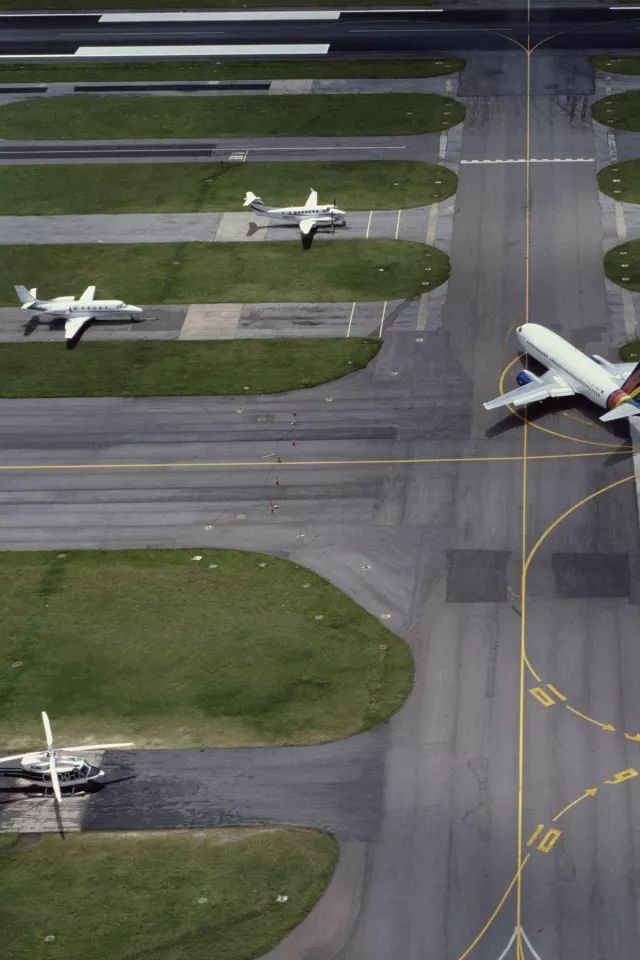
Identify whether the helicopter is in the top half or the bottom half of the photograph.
bottom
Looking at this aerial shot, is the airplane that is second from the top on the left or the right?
left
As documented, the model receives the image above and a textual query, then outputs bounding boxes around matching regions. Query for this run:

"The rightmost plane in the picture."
[480,322,640,419]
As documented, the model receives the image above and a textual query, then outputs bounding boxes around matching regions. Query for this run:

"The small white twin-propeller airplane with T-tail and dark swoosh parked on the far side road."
[242,188,344,233]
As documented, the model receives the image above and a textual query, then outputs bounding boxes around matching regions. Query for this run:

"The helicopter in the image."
[0,712,135,800]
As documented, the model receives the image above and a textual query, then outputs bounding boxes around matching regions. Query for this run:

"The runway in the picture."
[0,5,640,62]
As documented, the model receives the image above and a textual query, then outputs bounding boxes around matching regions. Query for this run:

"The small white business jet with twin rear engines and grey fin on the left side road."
[9,286,141,338]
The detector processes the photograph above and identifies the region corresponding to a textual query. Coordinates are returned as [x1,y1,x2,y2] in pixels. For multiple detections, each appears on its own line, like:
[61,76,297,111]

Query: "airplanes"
[9,286,141,338]
[242,188,344,233]
[480,322,640,419]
